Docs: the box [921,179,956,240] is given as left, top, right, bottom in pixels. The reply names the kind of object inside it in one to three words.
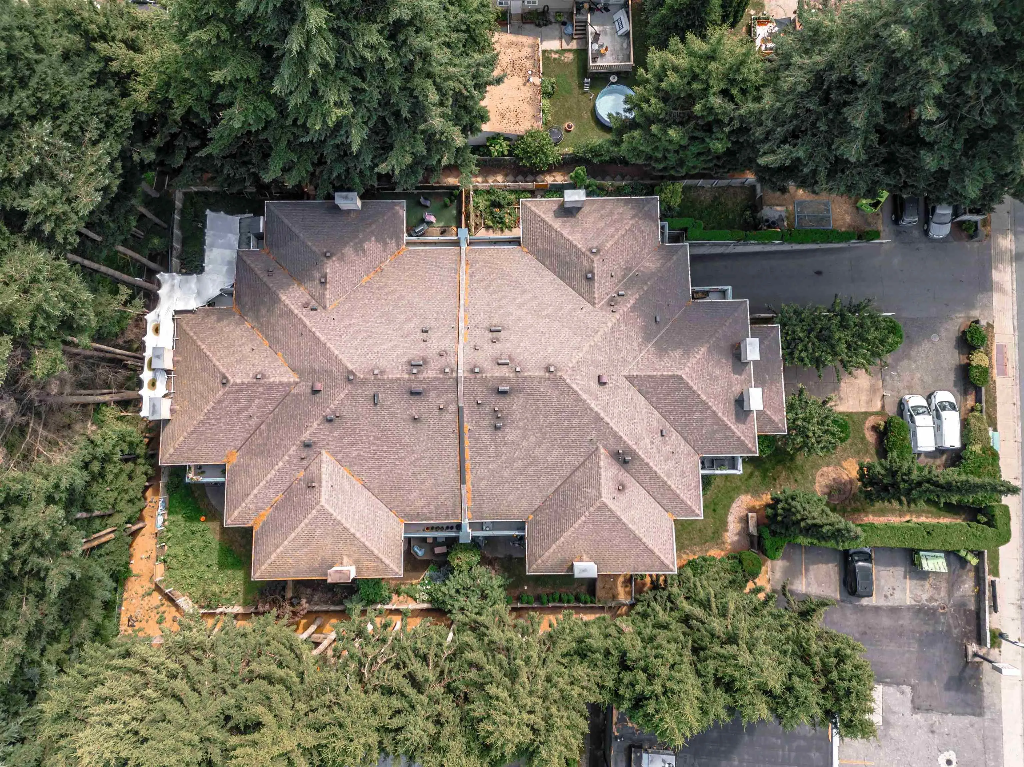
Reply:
car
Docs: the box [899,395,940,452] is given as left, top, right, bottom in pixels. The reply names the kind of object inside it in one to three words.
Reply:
van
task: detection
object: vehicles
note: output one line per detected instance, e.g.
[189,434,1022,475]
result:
[921,179,956,240]
[890,168,923,227]
[927,391,962,449]
[899,395,940,452]
[841,546,873,597]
